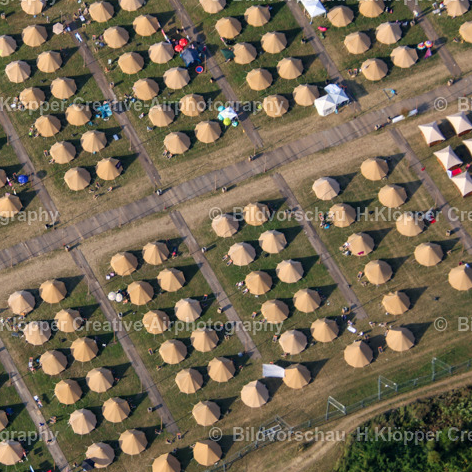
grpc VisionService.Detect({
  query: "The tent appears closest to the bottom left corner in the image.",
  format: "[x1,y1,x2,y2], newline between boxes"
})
[0,440,24,465]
